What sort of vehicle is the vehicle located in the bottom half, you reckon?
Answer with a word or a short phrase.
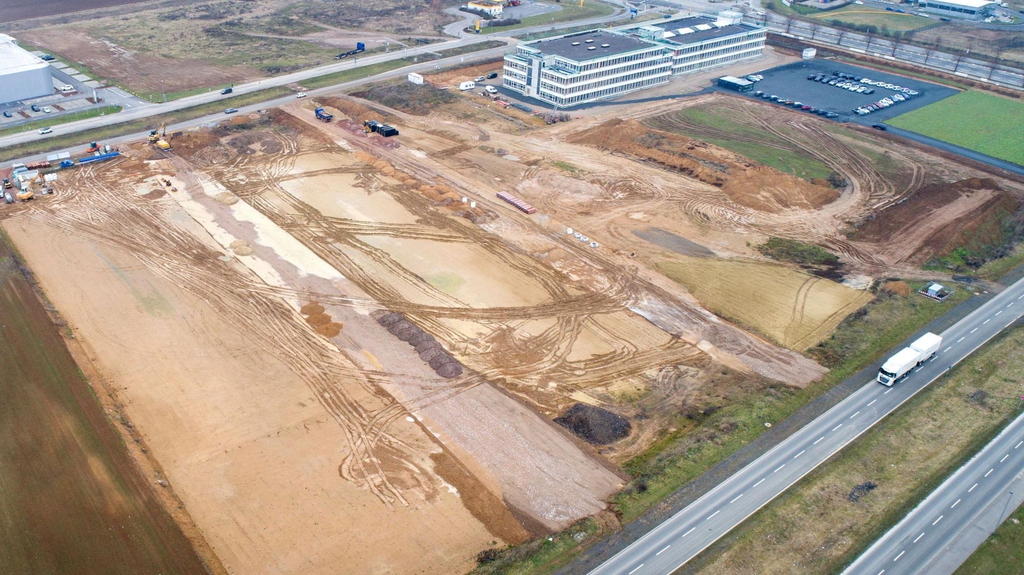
truck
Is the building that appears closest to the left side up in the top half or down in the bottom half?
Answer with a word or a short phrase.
top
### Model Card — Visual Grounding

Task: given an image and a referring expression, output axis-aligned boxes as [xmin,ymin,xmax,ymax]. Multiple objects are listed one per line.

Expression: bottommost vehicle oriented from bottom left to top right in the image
[881,333,943,384]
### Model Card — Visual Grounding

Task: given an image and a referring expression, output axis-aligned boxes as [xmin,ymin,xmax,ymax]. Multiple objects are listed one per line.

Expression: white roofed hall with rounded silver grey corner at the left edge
[0,32,49,98]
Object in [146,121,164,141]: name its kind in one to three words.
work vehicle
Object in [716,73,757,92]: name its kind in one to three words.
building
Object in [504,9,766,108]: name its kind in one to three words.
building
